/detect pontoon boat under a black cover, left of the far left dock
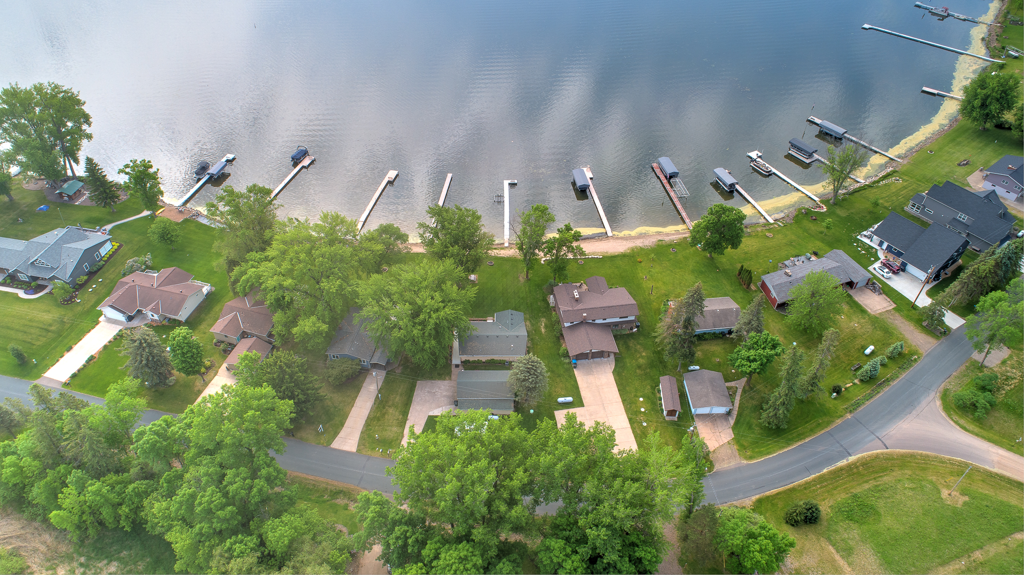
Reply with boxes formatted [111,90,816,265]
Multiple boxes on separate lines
[192,161,212,179]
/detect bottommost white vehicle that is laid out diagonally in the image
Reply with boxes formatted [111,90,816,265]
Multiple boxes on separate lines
[873,265,893,280]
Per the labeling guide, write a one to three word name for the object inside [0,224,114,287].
house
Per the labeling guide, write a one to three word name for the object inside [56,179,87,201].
shed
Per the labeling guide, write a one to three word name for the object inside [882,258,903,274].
car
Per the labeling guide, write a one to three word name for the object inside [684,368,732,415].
building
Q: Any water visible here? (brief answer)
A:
Yes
